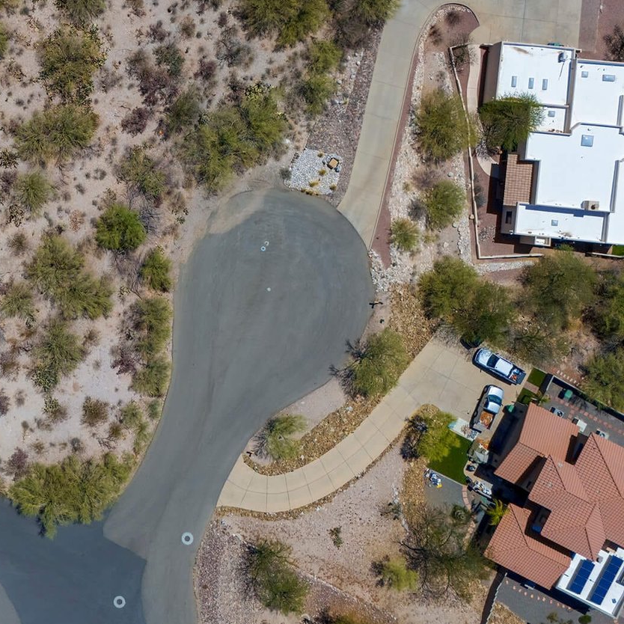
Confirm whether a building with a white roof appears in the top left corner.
No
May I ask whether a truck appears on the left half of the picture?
No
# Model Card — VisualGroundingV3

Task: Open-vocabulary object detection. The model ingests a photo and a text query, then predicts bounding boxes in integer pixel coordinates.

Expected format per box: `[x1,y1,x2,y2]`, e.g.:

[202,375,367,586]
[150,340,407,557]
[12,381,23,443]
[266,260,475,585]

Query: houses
[478,398,624,617]
[480,42,624,248]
